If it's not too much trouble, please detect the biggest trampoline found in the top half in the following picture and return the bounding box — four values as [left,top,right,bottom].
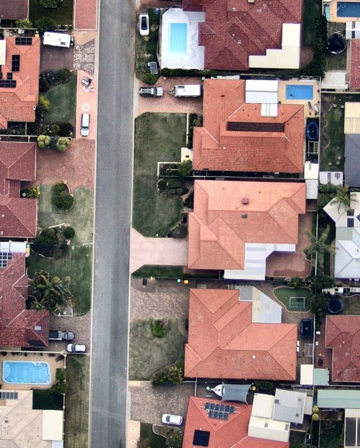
[329,32,346,52]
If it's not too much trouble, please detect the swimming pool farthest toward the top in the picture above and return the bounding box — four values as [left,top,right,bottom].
[332,0,360,19]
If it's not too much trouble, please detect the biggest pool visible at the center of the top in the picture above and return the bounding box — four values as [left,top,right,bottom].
[167,19,191,56]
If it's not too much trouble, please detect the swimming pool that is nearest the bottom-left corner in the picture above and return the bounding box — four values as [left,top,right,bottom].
[1,359,52,385]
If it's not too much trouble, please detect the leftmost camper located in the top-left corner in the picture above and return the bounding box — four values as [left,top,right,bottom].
[43,31,75,46]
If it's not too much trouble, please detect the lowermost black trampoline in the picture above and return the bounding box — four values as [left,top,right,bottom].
[301,318,314,338]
